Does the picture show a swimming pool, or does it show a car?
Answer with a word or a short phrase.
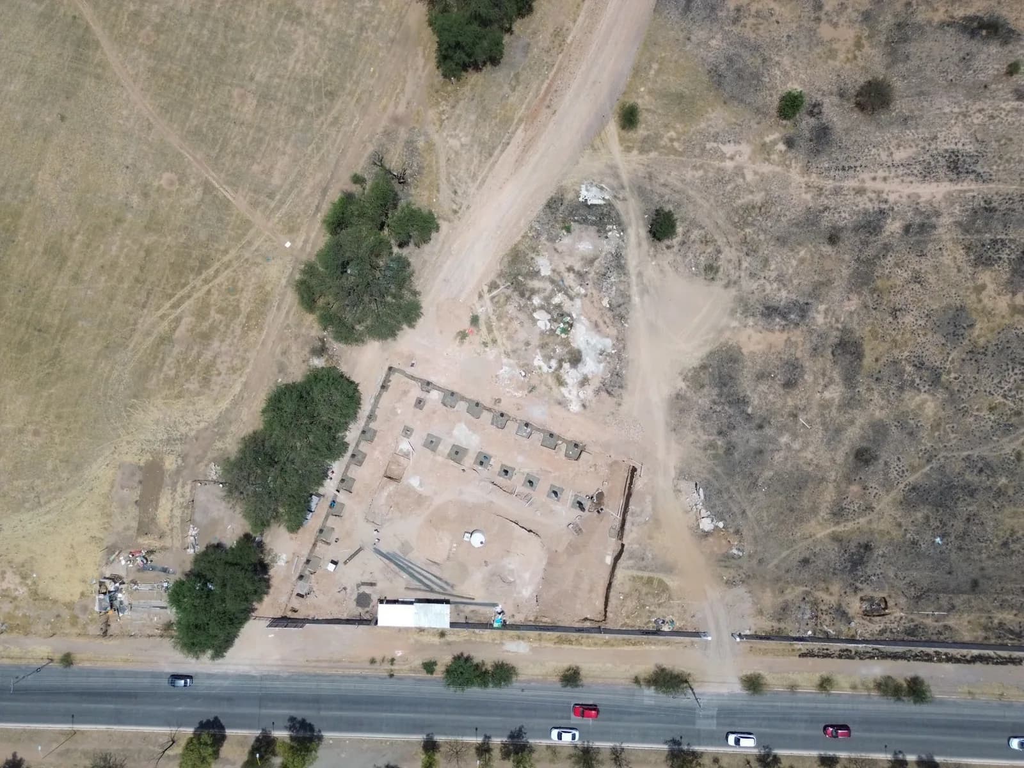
car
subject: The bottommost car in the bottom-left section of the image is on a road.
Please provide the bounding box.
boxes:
[167,673,192,688]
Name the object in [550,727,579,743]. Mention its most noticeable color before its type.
white car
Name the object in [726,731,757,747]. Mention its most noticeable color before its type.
white car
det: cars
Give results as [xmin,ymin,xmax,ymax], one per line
[550,727,579,743]
[1009,734,1024,750]
[726,731,757,747]
[573,704,600,719]
[824,723,852,738]
[167,673,192,688]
